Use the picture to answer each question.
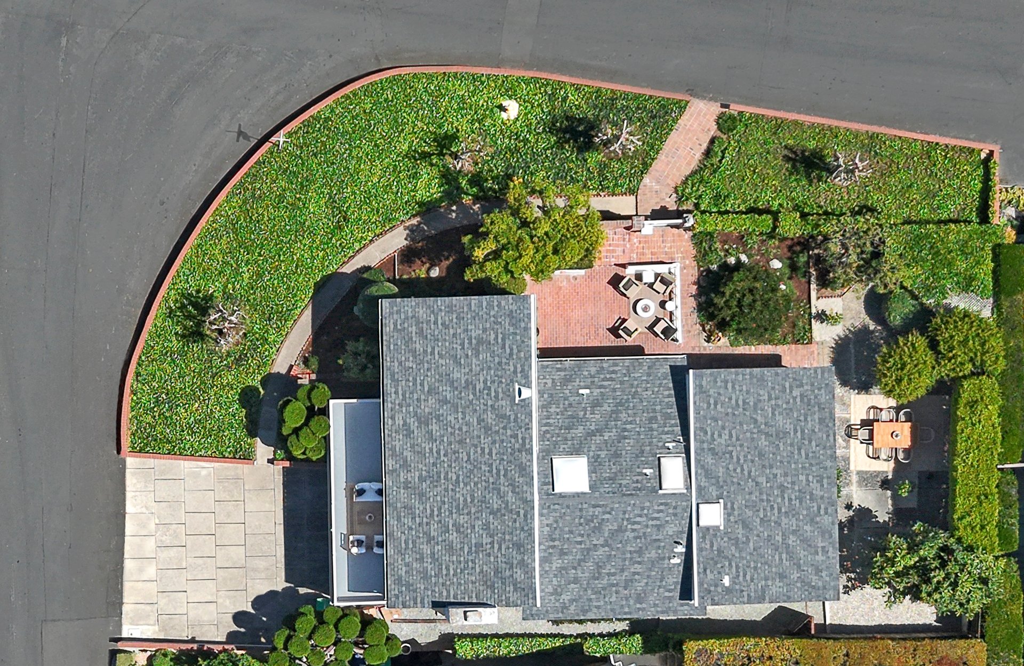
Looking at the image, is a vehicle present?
No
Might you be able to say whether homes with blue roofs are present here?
No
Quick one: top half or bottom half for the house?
bottom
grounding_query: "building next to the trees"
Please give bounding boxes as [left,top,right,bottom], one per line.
[324,294,840,624]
